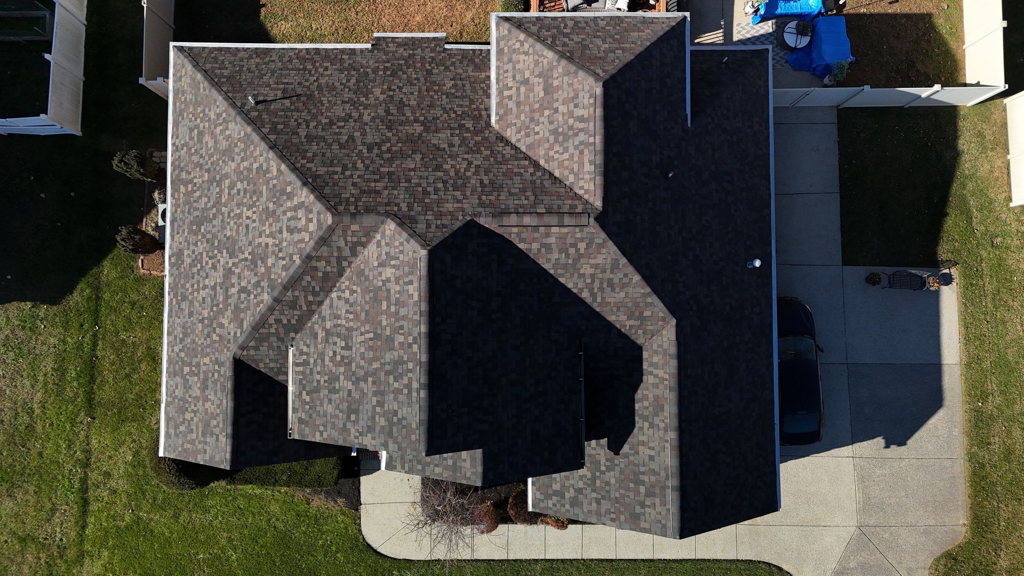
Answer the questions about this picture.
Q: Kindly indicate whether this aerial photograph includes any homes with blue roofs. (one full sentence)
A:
No, there is no home with a blue roof in the image.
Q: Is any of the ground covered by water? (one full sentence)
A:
No, no water is visible.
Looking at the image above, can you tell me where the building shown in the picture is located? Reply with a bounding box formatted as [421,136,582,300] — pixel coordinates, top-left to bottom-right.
[158,10,782,539]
